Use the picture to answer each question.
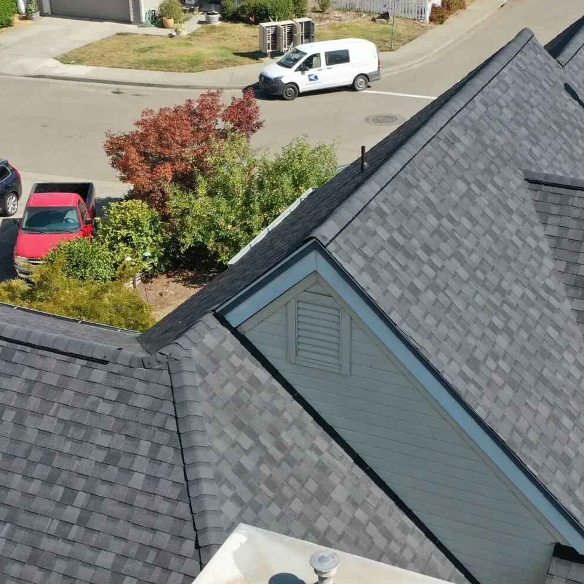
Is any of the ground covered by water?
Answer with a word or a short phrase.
No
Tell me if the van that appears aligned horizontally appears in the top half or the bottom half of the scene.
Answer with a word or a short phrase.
top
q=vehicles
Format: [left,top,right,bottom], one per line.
[14,179,92,266]
[252,35,385,101]
[0,160,19,215]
